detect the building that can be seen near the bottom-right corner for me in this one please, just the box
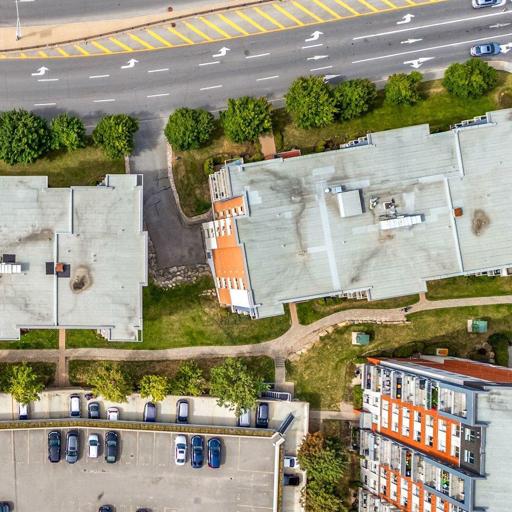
[343,354,512,512]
